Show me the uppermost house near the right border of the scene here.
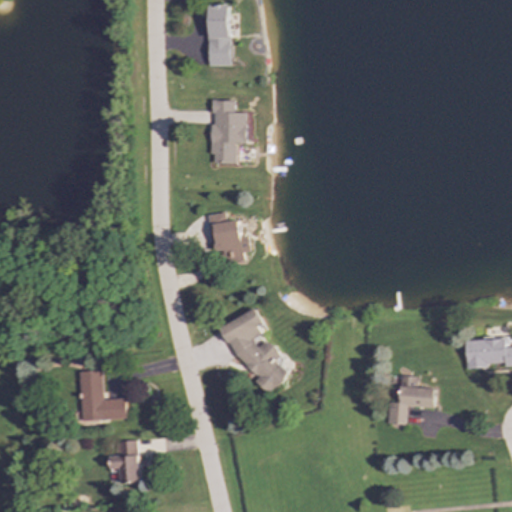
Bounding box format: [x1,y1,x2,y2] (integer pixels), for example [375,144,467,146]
[465,328,512,371]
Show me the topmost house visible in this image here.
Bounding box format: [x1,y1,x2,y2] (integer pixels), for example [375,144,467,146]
[208,4,242,67]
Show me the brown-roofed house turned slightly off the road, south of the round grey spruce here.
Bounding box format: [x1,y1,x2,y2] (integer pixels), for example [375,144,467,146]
[208,212,250,262]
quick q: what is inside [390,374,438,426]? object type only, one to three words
house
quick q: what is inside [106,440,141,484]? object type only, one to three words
house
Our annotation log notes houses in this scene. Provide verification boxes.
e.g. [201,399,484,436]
[208,4,242,67]
[208,212,250,262]
[106,440,141,484]
[78,372,126,425]
[390,374,438,426]
[206,100,254,165]
[465,328,512,371]
[222,308,292,391]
